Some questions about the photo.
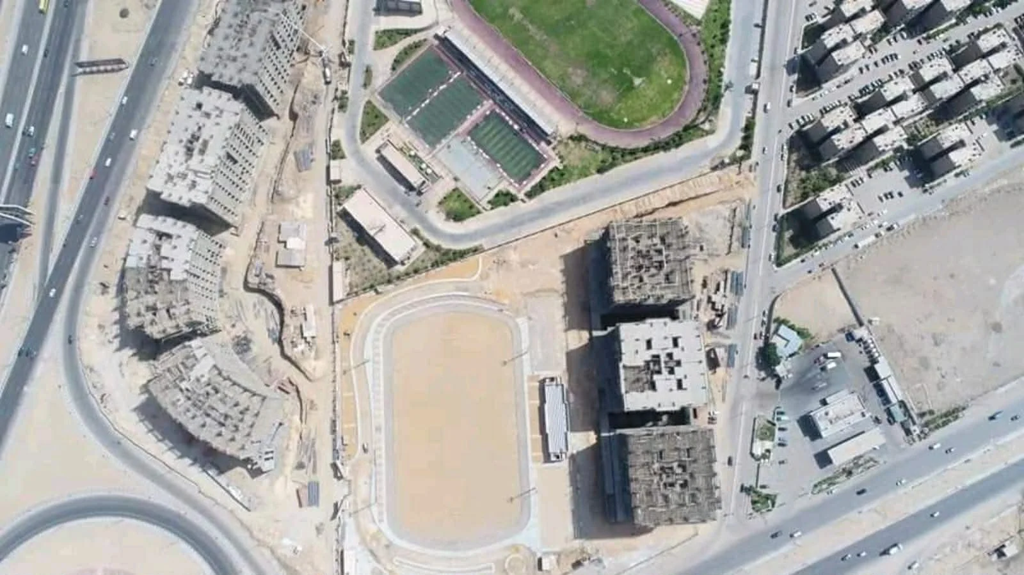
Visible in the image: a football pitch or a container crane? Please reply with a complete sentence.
It is a football pitch that can be seen here.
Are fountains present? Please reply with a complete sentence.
No, I find no fountain anywhere in the image.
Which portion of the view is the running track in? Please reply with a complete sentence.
Look in the top portion of the view to spot the running track.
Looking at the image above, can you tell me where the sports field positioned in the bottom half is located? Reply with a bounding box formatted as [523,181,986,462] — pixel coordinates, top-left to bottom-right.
[341,257,540,575]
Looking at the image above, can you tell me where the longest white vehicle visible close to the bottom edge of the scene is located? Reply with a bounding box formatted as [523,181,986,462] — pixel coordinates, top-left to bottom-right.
[883,543,905,556]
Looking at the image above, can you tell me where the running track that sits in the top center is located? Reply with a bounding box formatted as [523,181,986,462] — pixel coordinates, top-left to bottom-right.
[450,0,704,145]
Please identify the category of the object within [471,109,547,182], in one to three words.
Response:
soccer field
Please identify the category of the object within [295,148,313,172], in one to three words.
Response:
shed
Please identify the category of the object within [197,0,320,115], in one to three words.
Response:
building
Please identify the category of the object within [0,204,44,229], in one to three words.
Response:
bridge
